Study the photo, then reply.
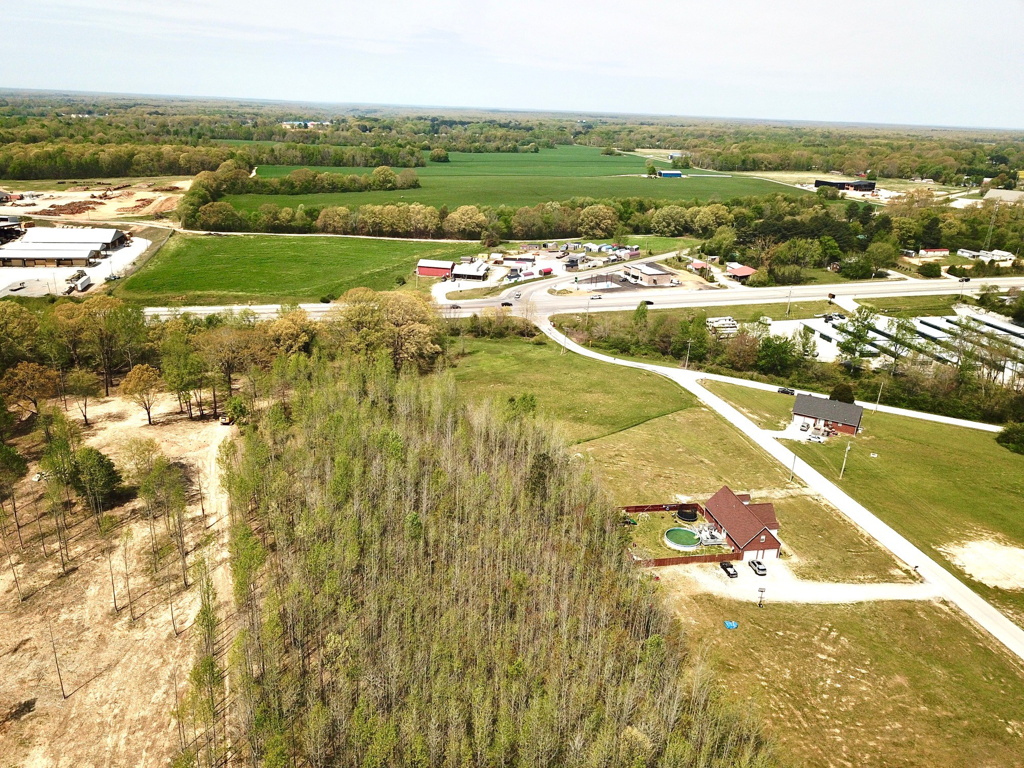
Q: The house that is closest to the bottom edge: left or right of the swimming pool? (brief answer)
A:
right of it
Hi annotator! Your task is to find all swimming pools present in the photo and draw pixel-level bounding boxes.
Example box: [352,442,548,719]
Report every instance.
[665,527,701,551]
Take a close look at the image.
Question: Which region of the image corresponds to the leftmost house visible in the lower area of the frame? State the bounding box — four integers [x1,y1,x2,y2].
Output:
[700,481,783,561]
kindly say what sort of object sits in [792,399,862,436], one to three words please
house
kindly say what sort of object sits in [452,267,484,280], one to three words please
building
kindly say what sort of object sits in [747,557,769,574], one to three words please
car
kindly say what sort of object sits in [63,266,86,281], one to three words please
vehicle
